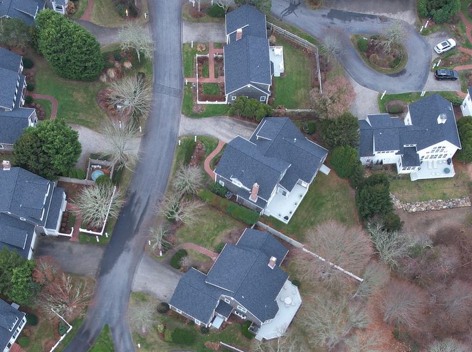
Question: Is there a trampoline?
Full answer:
No, the photo shows no trampoline.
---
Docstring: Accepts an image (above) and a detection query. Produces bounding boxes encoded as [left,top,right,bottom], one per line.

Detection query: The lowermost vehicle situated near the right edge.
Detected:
[432,67,460,81]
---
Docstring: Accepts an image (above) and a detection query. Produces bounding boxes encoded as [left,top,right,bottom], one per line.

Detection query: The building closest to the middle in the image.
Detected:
[214,116,329,225]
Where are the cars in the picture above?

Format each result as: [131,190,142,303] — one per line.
[432,67,460,81]
[432,38,458,55]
